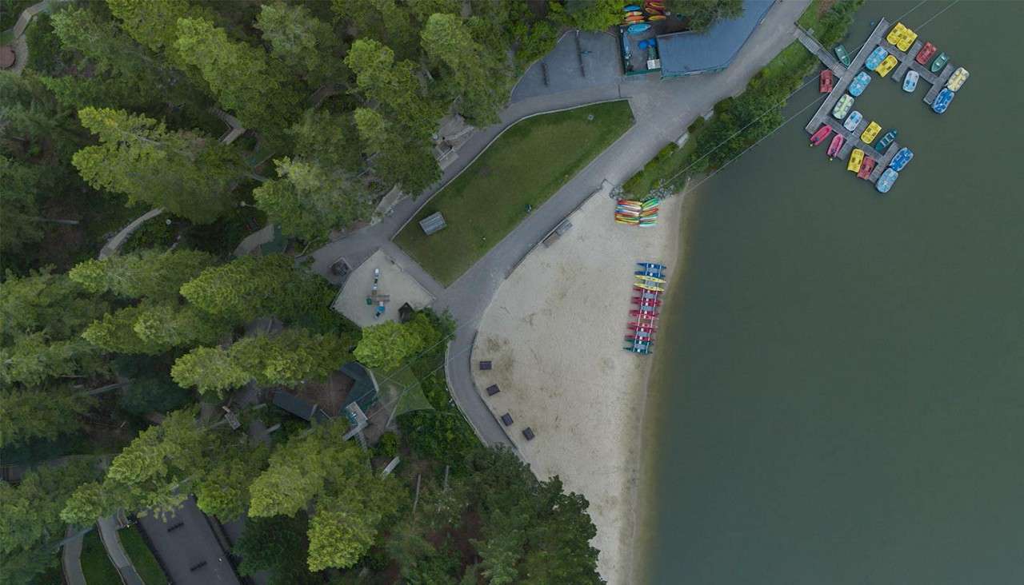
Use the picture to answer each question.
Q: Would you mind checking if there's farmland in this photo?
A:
No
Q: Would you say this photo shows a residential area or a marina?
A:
marina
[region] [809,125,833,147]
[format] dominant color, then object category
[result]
red boat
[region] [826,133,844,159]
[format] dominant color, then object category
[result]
pink boat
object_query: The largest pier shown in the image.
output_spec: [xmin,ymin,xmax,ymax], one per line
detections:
[805,15,955,183]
